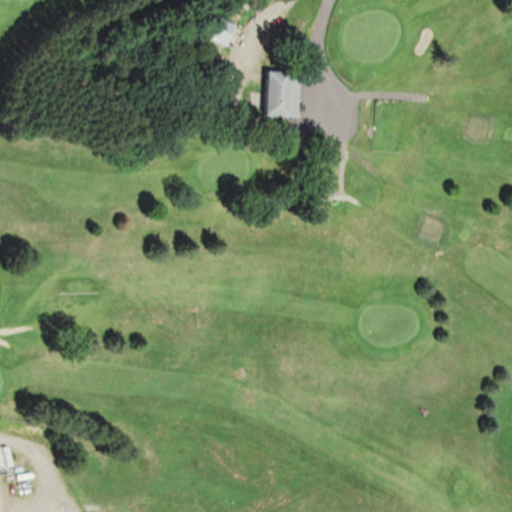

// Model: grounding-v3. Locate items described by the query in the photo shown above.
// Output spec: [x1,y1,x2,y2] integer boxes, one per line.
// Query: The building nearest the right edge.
[267,71,300,119]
